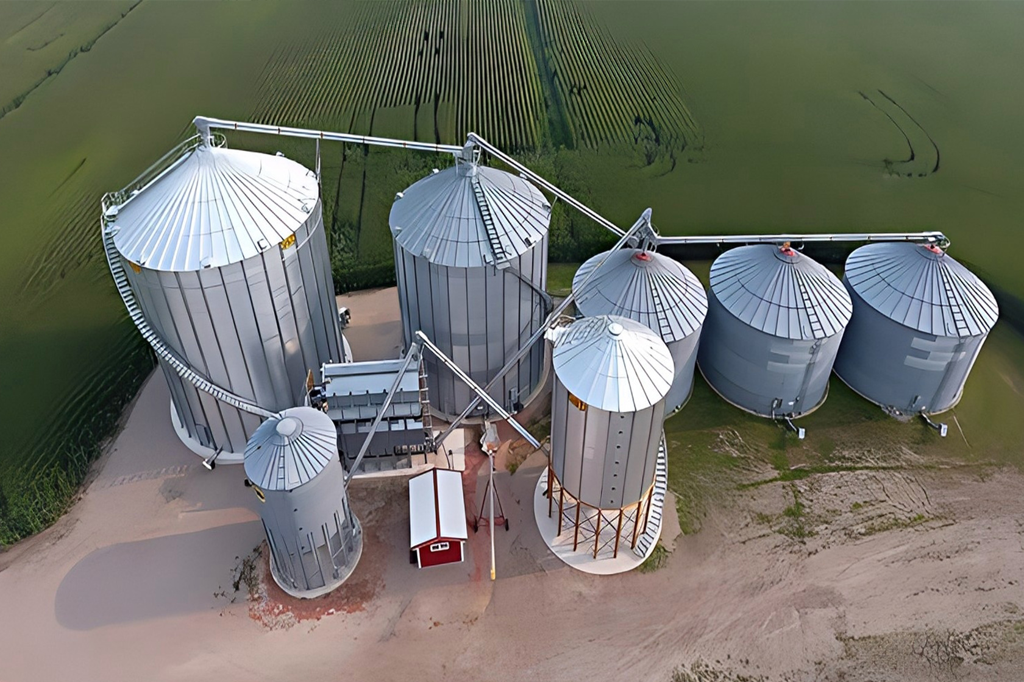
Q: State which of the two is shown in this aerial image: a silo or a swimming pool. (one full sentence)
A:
This aerial view contains a silo.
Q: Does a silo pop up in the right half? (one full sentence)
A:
Yes, a silo shows up in the right half.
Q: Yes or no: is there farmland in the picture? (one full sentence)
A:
Yes, farmland shows up in the scene.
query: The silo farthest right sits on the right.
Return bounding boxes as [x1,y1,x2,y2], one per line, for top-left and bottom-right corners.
[831,252,1000,430]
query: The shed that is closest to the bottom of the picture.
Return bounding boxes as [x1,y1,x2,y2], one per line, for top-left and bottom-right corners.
[409,469,469,569]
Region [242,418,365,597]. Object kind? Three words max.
silo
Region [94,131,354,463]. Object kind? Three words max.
silo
